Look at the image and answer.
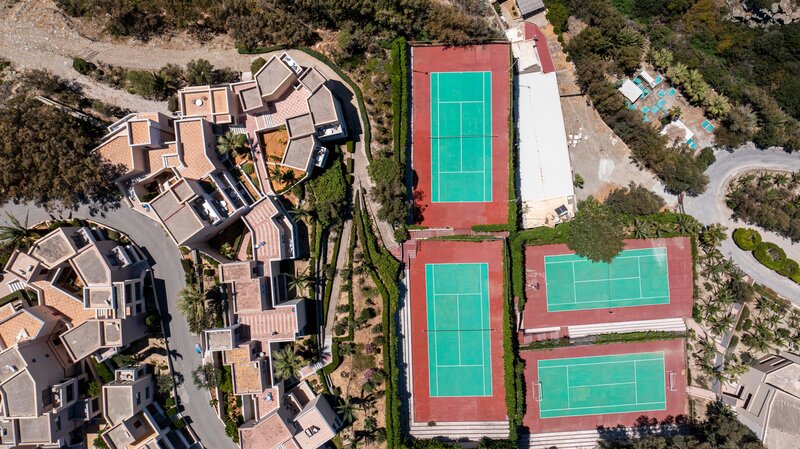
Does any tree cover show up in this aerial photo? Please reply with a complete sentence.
Yes, some tree cover is visible.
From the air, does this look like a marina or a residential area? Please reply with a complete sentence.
It's a residential area.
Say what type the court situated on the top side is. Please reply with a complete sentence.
It turns out the court situated on the top side is a tennis court.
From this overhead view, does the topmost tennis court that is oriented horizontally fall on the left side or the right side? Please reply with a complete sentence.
The topmost tennis court that is oriented horizontally is on the right side of the image.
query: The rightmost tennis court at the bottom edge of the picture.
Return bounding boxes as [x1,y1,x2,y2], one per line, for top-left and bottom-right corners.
[520,339,687,434]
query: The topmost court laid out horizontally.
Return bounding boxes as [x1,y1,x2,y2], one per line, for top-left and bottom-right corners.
[523,237,692,329]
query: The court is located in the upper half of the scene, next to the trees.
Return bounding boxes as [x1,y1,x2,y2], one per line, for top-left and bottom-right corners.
[412,44,511,227]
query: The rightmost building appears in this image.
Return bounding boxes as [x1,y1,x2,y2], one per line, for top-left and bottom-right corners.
[720,346,800,449]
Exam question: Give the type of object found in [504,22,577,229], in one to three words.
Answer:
building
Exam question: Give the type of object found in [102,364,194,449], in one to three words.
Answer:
house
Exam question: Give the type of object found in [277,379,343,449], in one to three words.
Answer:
house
